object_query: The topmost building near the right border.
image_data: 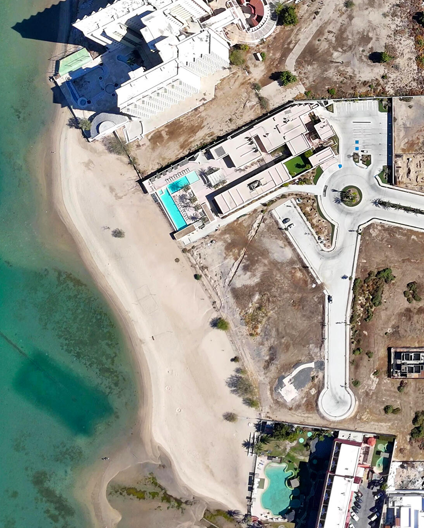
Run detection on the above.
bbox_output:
[391,347,424,378]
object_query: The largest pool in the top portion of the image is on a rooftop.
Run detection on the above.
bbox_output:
[155,170,201,232]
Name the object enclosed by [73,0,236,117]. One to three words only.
building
